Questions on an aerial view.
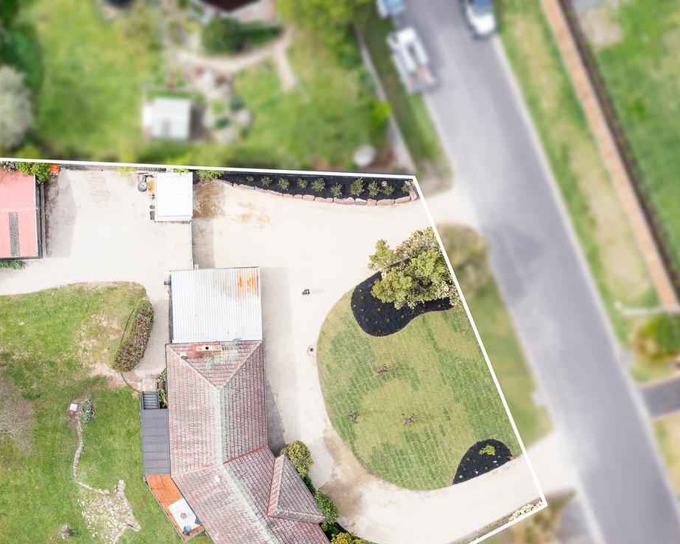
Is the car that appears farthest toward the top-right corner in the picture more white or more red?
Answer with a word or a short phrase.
white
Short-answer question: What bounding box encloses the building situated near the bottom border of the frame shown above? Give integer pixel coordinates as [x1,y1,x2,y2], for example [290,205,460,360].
[165,340,326,544]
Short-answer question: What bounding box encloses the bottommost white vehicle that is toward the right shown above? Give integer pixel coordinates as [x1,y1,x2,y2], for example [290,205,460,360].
[391,27,439,94]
